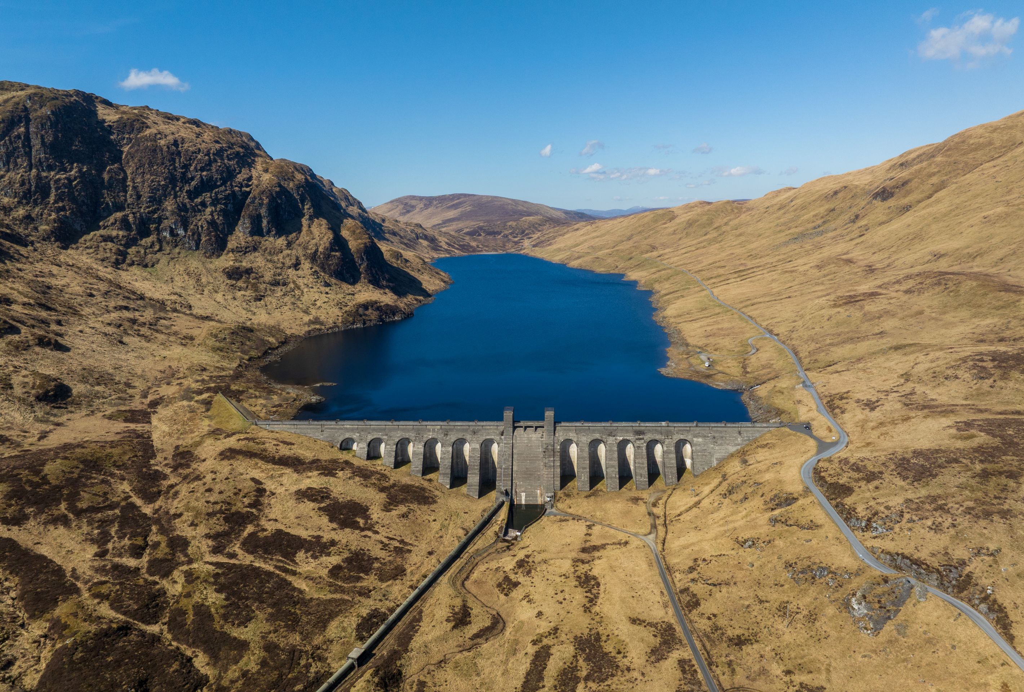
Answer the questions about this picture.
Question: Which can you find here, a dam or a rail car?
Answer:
dam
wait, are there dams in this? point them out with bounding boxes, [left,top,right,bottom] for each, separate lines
[250,407,784,507]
